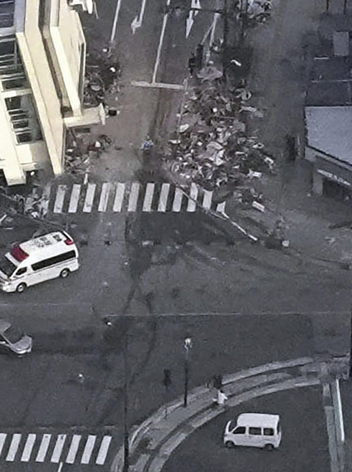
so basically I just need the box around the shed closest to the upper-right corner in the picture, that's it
[303,63,352,107]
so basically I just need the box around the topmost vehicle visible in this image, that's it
[0,222,85,294]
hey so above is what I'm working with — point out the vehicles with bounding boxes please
[0,317,40,359]
[0,222,85,294]
[223,410,282,451]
